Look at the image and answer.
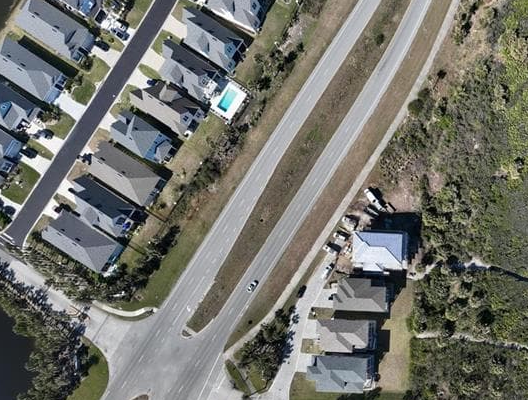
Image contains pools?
Yes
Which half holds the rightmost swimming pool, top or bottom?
top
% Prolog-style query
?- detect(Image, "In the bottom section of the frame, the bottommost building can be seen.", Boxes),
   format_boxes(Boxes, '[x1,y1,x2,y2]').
[310,355,374,392]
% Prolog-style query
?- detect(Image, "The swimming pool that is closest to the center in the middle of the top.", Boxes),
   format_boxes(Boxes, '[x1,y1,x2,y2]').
[210,82,247,119]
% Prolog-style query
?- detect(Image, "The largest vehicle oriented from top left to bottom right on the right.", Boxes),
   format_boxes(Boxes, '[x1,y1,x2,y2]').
[365,188,384,210]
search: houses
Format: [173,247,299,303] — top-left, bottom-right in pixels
[207,0,280,36]
[353,232,408,271]
[0,85,44,130]
[108,110,177,163]
[86,140,171,202]
[130,77,203,139]
[320,319,376,352]
[156,42,222,103]
[66,182,149,243]
[335,278,392,311]
[182,12,256,73]
[0,130,28,173]
[0,38,72,104]
[310,355,374,392]
[42,210,127,274]
[11,0,98,65]
[60,0,107,22]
